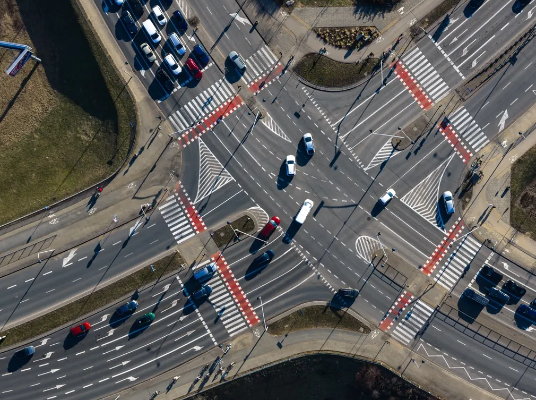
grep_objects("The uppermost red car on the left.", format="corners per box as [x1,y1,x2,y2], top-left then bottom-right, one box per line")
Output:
[186,57,203,81]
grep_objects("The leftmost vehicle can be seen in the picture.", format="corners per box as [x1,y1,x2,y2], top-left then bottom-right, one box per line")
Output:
[12,345,35,360]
